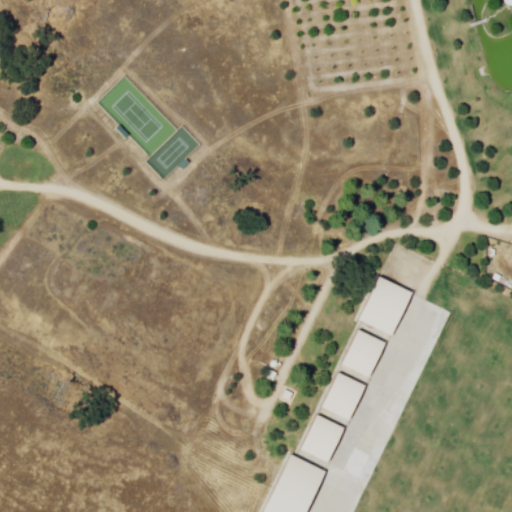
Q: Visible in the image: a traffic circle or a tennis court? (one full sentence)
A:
The one in the frame is a tennis court.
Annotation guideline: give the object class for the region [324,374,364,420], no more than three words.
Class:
hangar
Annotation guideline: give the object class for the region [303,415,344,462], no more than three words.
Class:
hangar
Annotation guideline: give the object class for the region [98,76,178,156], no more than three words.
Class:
tennis court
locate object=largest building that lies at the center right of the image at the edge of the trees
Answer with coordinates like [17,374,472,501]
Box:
[358,276,412,334]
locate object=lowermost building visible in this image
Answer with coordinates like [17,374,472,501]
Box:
[266,456,327,512]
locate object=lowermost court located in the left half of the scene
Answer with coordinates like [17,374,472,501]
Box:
[146,126,200,180]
